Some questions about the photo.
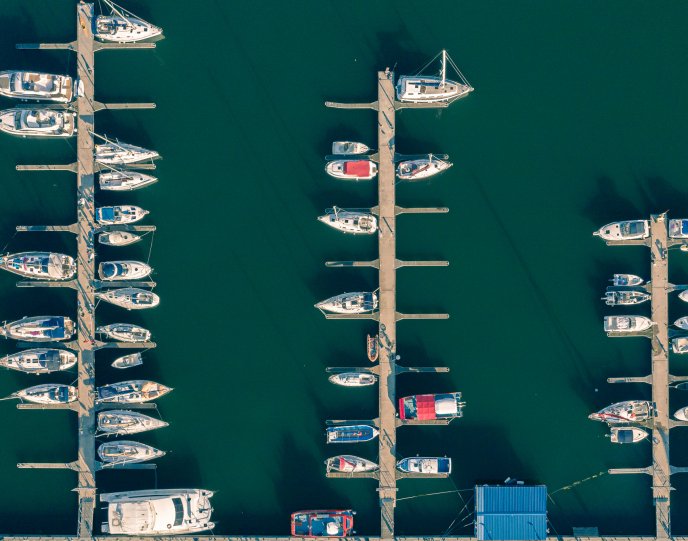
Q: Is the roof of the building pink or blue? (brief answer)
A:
blue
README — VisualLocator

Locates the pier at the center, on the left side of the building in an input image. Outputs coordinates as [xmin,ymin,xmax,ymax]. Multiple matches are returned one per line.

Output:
[325,71,450,508]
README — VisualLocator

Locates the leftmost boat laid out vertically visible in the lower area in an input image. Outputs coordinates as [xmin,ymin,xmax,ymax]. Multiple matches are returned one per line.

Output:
[367,335,379,362]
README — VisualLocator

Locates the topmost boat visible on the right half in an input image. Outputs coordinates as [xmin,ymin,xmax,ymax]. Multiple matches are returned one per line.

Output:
[394,50,474,105]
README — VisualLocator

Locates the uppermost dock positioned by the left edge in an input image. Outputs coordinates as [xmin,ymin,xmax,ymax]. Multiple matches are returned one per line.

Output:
[15,3,157,508]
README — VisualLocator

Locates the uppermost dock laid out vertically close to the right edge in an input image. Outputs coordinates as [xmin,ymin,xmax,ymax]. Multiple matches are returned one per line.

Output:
[605,214,688,508]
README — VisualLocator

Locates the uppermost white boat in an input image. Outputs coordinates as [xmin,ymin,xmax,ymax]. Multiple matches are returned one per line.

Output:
[93,0,163,44]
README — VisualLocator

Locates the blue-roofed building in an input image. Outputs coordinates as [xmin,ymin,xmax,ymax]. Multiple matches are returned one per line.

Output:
[470,476,548,541]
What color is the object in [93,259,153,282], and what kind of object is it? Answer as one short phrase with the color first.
white boat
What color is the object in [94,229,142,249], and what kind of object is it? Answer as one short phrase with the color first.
white boat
